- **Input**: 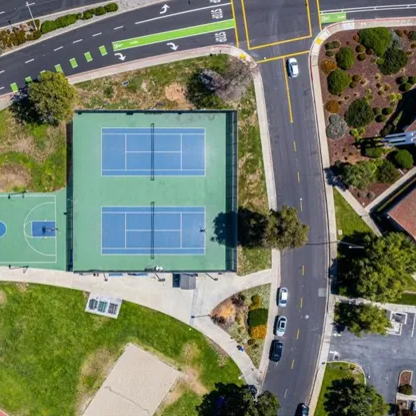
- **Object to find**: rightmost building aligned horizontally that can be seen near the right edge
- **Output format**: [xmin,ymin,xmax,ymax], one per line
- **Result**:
[382,130,416,146]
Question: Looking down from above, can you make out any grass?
Yes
